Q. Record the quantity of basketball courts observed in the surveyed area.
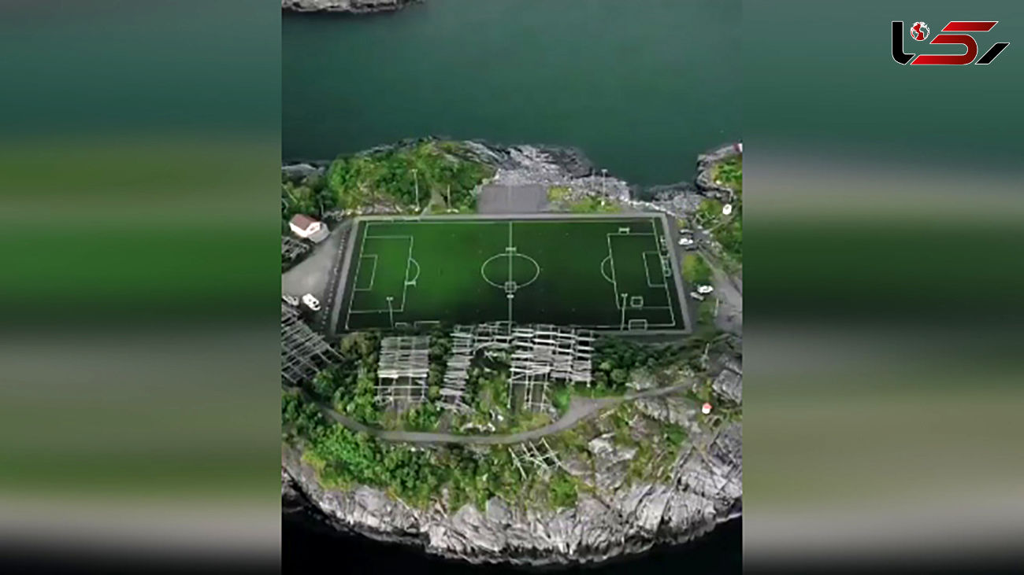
0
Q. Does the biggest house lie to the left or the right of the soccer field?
on its left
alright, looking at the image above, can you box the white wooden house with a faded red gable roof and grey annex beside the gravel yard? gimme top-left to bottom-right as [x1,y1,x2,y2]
[289,211,327,241]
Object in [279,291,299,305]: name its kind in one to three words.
vehicle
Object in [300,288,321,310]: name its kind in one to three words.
camper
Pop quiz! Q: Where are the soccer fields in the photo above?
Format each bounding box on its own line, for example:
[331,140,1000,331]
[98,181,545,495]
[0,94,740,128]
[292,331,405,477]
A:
[328,213,691,335]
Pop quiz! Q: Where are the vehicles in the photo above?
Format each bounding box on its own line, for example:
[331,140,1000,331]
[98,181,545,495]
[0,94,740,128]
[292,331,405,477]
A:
[685,245,699,252]
[300,288,321,310]
[697,285,714,295]
[279,291,299,305]
[679,240,694,246]
[689,292,706,301]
